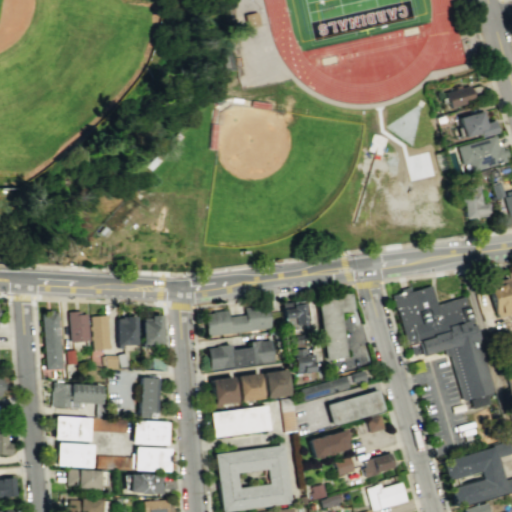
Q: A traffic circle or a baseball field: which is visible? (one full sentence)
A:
This aerial view contains a baseball field.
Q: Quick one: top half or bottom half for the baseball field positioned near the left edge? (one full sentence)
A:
The baseball field positioned near the left edge sits in the top half of the picture.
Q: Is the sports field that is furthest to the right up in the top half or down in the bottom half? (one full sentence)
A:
The sports field that is furthest to the right is in the top half of the image.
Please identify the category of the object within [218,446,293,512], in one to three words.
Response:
building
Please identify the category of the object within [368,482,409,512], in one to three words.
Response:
building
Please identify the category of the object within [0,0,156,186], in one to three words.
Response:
baseball field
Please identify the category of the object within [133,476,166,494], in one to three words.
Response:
house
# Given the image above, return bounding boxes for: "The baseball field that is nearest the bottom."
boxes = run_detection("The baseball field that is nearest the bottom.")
[206,96,364,247]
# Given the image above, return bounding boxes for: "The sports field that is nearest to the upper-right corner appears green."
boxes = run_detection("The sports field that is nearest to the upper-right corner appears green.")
[288,0,432,51]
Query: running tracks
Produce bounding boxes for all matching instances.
[260,0,469,108]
